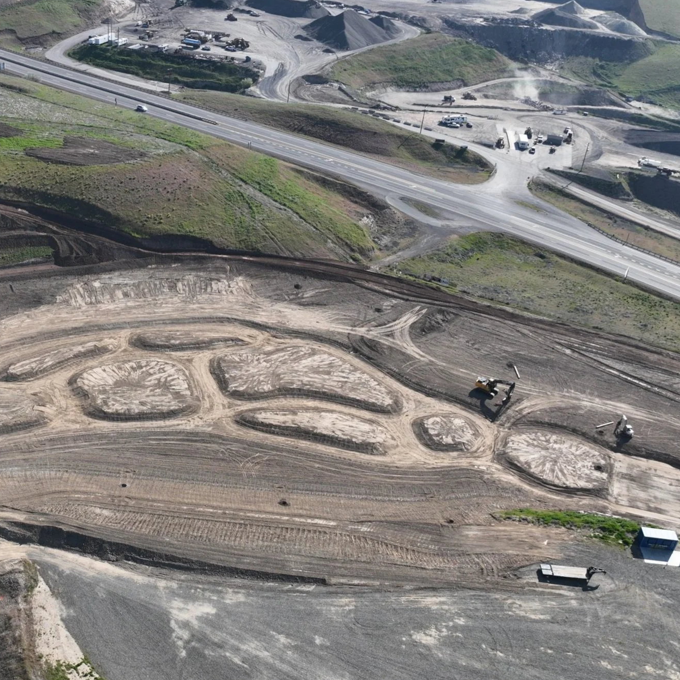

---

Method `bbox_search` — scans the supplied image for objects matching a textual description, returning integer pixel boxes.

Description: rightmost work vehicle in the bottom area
[612,416,641,442]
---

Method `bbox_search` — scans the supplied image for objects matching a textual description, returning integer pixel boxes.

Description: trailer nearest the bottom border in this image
[539,564,607,582]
